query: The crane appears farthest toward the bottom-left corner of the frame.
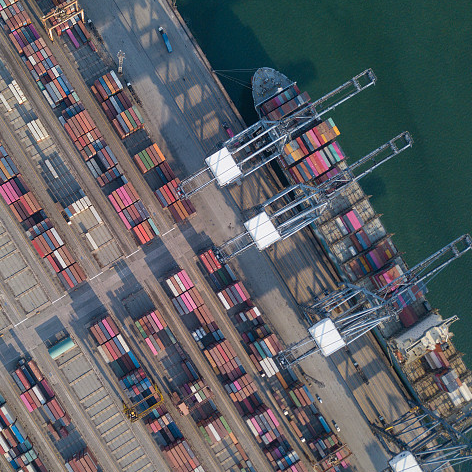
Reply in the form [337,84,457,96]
[123,381,166,423]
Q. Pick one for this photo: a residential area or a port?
port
